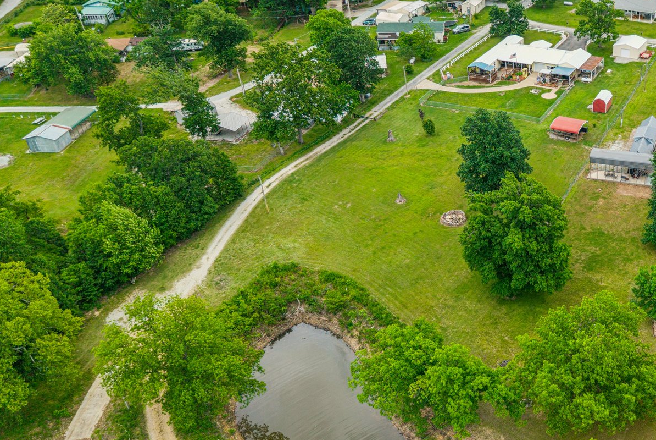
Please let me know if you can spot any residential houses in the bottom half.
No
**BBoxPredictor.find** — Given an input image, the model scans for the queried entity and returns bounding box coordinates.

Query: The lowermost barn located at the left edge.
[21,101,97,153]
